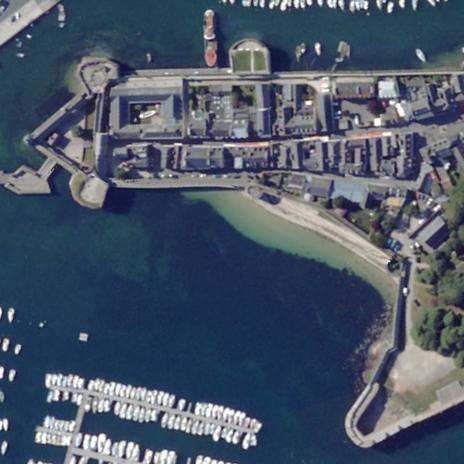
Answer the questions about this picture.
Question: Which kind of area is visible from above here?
residential area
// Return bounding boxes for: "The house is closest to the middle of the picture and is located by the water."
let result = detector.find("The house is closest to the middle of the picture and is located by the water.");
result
[250,184,279,204]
